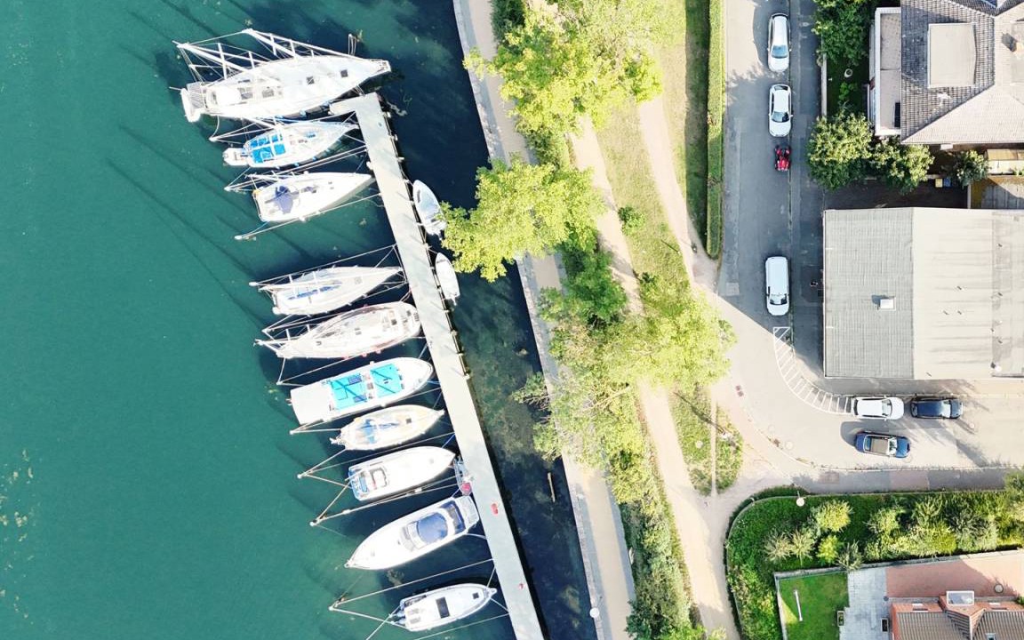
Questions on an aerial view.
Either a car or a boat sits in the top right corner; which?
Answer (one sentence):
You can see a car in the top right corner.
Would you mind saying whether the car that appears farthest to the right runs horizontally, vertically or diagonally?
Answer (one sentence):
The car that appears farthest to the right runs horizontally in the image.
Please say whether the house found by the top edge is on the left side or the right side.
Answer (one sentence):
The house found by the top edge sits on the right side.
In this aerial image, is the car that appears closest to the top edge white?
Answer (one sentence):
Yes, the car that appears closest to the top edge appears white.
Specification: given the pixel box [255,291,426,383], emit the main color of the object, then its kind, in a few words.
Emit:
white boat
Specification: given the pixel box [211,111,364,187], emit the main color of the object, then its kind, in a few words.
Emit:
white boat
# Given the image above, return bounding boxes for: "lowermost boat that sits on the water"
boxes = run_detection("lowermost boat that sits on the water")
[330,565,508,636]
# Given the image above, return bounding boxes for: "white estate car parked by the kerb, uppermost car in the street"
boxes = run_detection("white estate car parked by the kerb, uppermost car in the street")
[766,13,791,72]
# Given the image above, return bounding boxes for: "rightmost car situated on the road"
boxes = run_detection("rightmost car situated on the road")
[911,397,964,423]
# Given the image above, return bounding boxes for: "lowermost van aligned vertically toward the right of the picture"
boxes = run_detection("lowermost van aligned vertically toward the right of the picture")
[764,257,792,316]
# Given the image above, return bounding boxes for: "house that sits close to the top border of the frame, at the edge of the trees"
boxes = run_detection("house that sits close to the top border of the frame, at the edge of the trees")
[871,0,1024,153]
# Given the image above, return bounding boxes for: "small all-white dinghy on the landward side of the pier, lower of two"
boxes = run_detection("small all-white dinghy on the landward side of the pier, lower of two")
[435,251,461,303]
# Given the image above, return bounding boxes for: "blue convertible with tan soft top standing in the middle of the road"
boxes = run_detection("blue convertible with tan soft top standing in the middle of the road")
[855,434,911,461]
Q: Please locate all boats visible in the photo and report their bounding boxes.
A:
[330,565,508,636]
[226,153,380,238]
[300,435,455,524]
[455,457,472,495]
[211,111,364,187]
[413,180,446,237]
[255,246,406,330]
[280,347,440,432]
[296,394,452,476]
[167,28,392,136]
[255,291,426,383]
[435,251,461,303]
[319,488,485,597]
